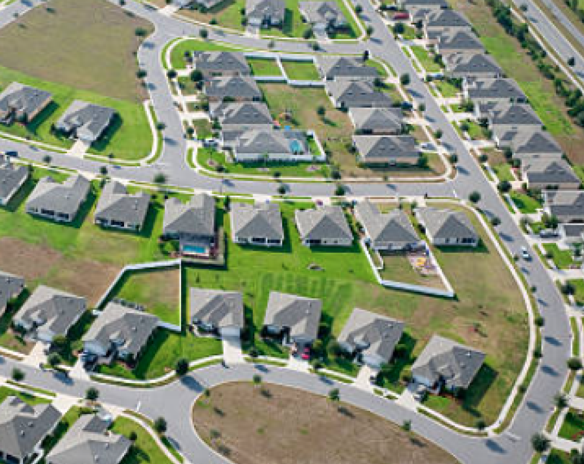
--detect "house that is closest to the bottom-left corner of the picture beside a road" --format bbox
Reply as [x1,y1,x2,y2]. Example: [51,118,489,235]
[0,398,65,464]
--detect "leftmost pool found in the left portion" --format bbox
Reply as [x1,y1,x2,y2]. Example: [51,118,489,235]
[179,233,213,257]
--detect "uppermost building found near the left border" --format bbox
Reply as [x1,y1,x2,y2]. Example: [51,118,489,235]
[0,83,51,121]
